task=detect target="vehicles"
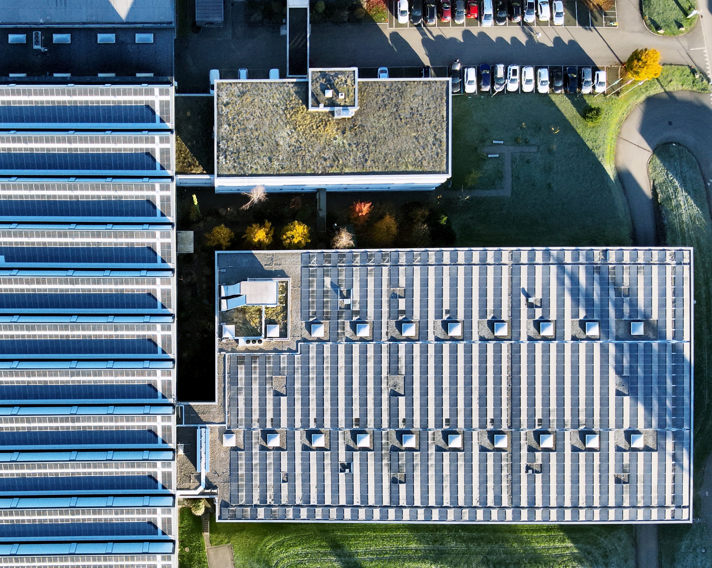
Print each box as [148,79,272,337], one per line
[463,68,475,95]
[550,2,564,27]
[494,2,507,27]
[466,1,477,22]
[578,70,593,94]
[522,0,536,25]
[593,71,606,95]
[419,68,430,79]
[477,66,491,92]
[453,1,465,26]
[509,1,523,27]
[209,72,220,93]
[438,0,452,26]
[479,0,493,28]
[549,71,564,95]
[536,0,549,24]
[269,69,281,79]
[377,67,388,79]
[237,69,249,79]
[396,0,410,27]
[505,66,519,93]
[491,66,505,93]
[565,69,578,94]
[520,67,534,94]
[449,64,462,94]
[350,65,359,79]
[424,3,437,29]
[408,0,422,26]
[535,70,548,94]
